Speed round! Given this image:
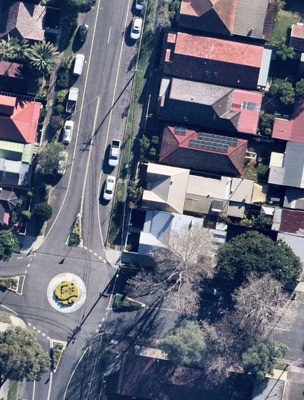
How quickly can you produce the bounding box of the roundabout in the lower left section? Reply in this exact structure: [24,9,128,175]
[47,273,86,312]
